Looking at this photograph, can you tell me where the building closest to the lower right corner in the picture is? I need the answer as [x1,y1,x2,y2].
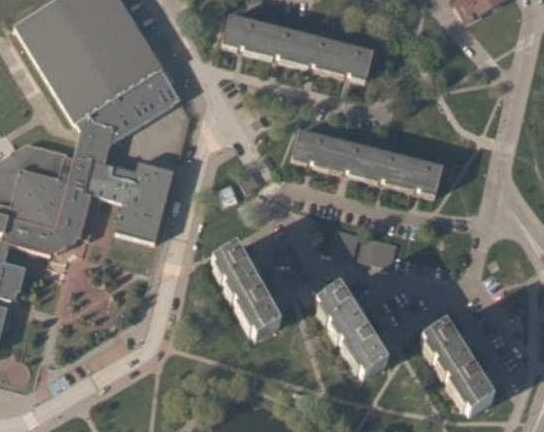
[417,315,495,419]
